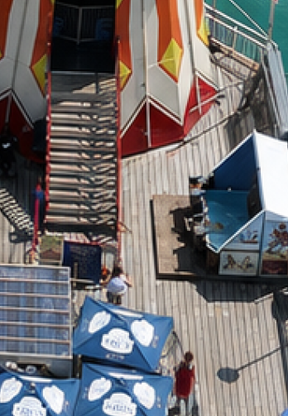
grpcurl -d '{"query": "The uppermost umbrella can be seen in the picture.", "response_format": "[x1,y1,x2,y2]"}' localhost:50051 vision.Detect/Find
[74,296,172,372]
